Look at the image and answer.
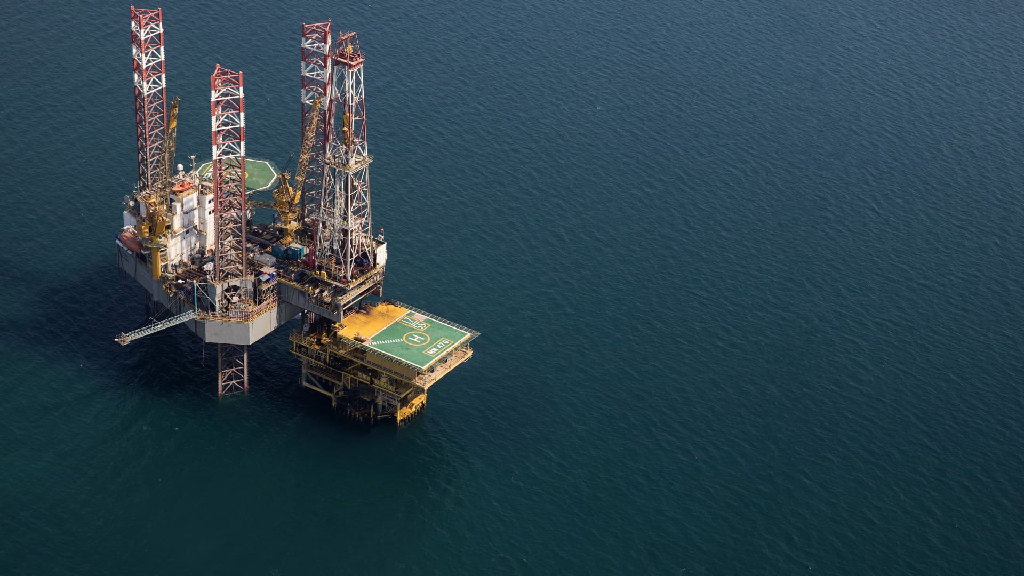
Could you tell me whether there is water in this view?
Yes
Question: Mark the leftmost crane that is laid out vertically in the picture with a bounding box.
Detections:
[138,96,182,282]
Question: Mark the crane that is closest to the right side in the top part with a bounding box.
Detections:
[271,97,323,237]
